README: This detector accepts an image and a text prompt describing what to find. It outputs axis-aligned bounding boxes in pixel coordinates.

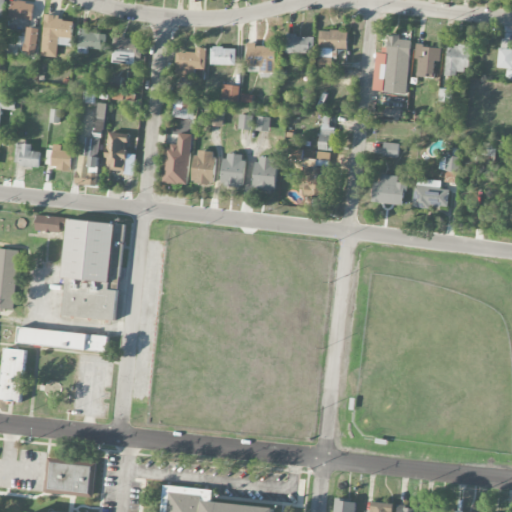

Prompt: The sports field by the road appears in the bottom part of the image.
[150,226,335,439]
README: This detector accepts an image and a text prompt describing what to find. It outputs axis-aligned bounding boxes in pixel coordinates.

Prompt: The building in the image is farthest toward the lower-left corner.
[44,458,99,496]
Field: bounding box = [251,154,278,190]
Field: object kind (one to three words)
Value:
house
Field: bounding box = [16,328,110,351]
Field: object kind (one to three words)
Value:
building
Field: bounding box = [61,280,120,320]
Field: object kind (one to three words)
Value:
building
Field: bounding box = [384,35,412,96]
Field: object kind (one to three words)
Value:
house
